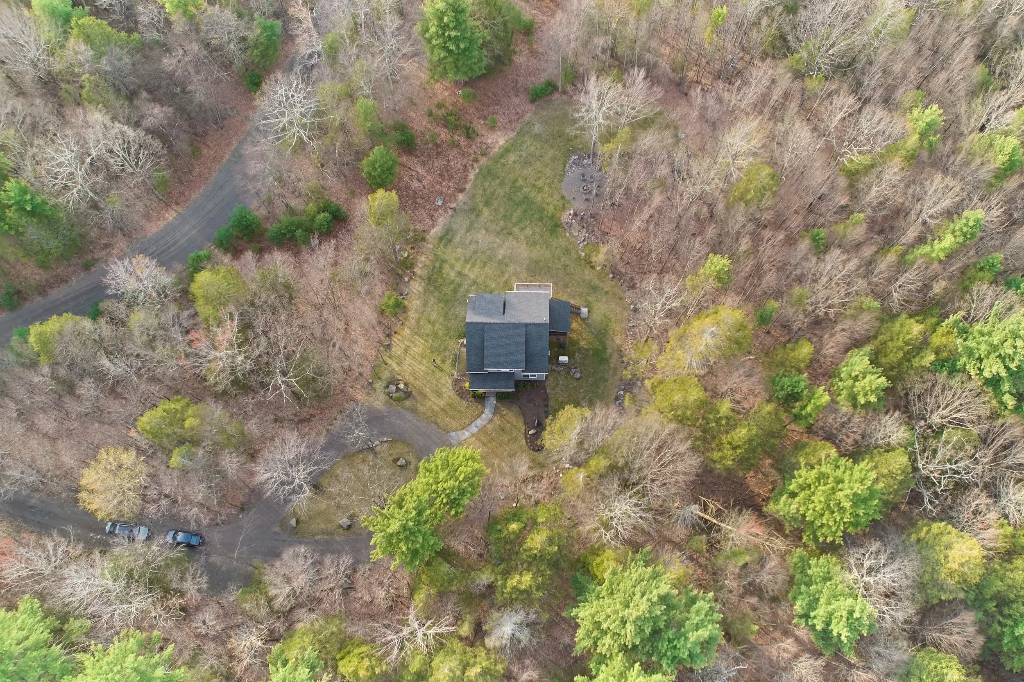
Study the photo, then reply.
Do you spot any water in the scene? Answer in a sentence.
No, water can't be seen anywhere here.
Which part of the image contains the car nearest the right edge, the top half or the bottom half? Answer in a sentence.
The car nearest the right edge is in the bottom half of the image.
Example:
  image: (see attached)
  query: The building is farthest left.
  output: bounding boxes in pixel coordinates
[466,289,550,397]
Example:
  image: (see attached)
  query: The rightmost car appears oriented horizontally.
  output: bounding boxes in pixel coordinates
[165,527,203,548]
